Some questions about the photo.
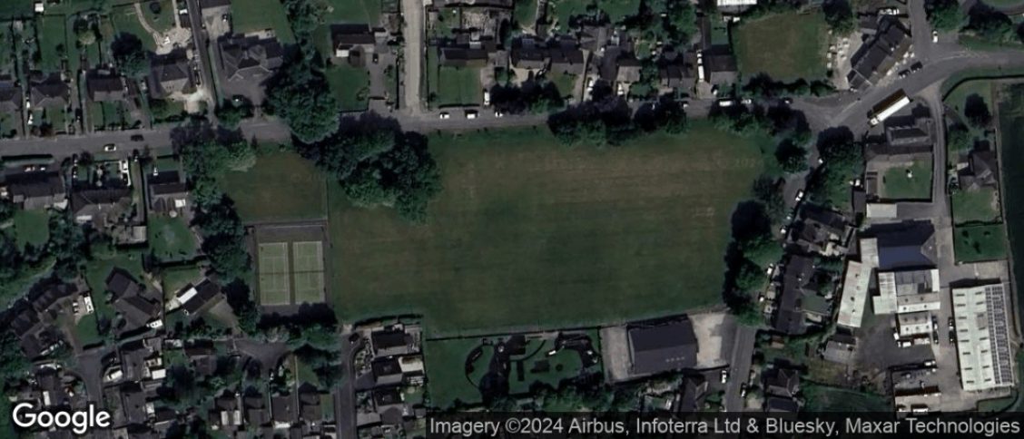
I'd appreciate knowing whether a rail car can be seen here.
No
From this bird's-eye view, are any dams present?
No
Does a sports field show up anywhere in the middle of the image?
Yes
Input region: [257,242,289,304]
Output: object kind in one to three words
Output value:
tennis court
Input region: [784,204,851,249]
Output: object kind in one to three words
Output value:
house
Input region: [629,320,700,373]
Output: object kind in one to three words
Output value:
building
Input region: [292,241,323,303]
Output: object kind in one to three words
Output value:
tennis court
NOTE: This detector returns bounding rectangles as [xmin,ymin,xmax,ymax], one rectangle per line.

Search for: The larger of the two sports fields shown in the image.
[327,117,804,338]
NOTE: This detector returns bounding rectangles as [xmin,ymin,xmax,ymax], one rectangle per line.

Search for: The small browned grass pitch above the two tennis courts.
[225,136,327,224]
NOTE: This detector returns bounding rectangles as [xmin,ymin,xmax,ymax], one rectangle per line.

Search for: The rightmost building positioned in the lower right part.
[953,282,1017,392]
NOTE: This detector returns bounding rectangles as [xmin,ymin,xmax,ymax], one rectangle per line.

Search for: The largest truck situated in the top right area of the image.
[871,97,911,124]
